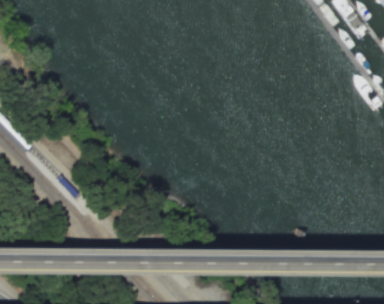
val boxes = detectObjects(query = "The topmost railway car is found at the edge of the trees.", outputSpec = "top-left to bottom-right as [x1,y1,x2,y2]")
[0,114,33,151]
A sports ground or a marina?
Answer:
marina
